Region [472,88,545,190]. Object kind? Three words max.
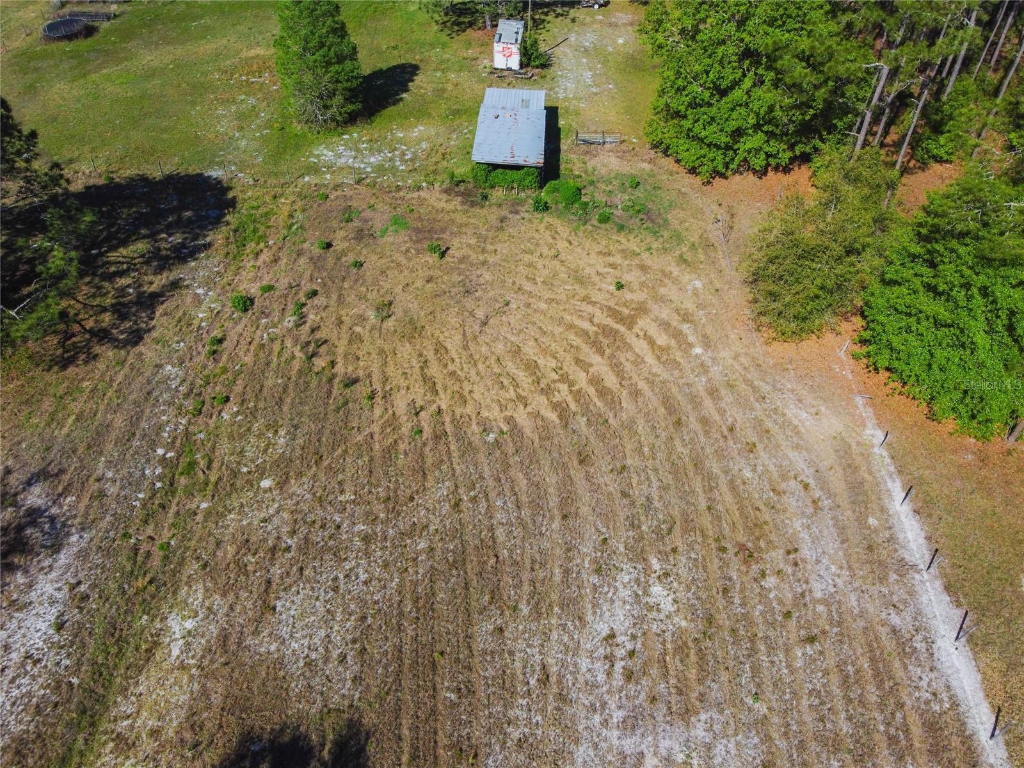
barn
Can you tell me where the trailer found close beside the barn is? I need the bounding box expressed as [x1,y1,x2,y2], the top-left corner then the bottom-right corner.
[493,19,523,66]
